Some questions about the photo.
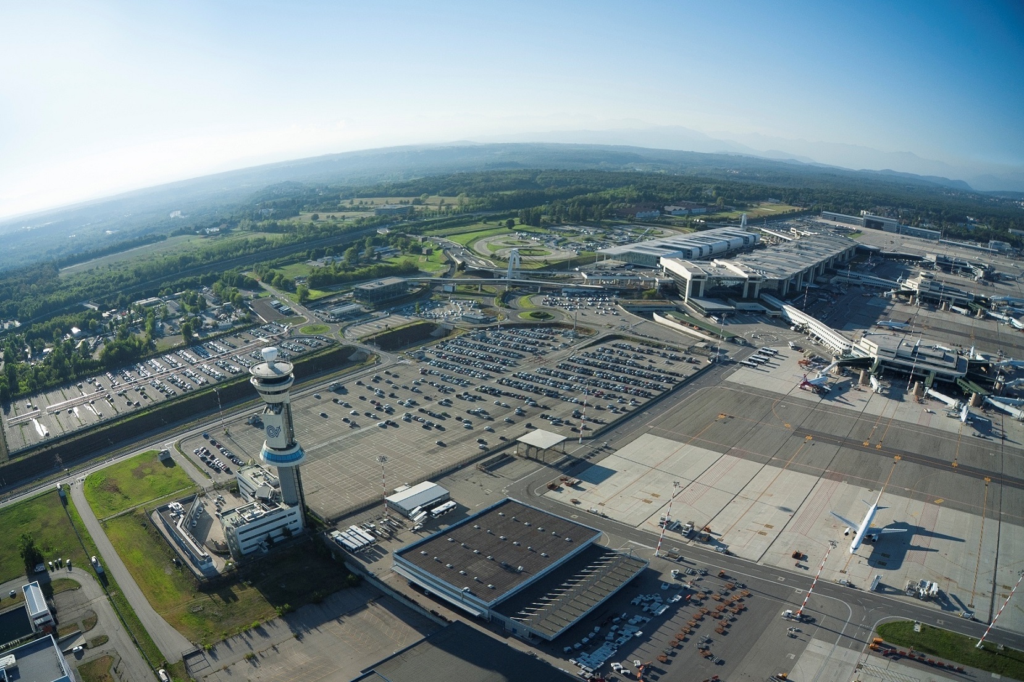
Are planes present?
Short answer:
Yes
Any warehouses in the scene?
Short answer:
Yes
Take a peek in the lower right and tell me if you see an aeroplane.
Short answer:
Yes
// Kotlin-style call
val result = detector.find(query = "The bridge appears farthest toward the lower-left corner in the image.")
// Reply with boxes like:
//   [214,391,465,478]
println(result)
[332,336,409,366]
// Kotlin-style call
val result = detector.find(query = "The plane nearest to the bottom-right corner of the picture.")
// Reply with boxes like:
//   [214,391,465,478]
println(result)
[833,481,905,552]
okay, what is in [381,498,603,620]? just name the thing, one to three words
warehouse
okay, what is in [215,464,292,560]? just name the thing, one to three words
building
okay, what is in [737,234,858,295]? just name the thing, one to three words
building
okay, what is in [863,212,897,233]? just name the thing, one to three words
hangar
